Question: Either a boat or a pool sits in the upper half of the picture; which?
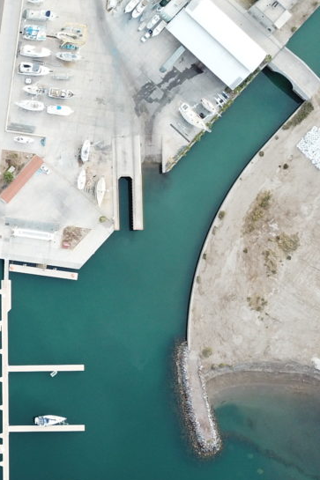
boat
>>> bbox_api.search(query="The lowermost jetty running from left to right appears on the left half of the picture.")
[9,260,78,280]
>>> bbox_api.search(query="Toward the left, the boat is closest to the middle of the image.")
[92,178,114,207]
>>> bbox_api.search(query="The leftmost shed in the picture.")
[0,154,44,205]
